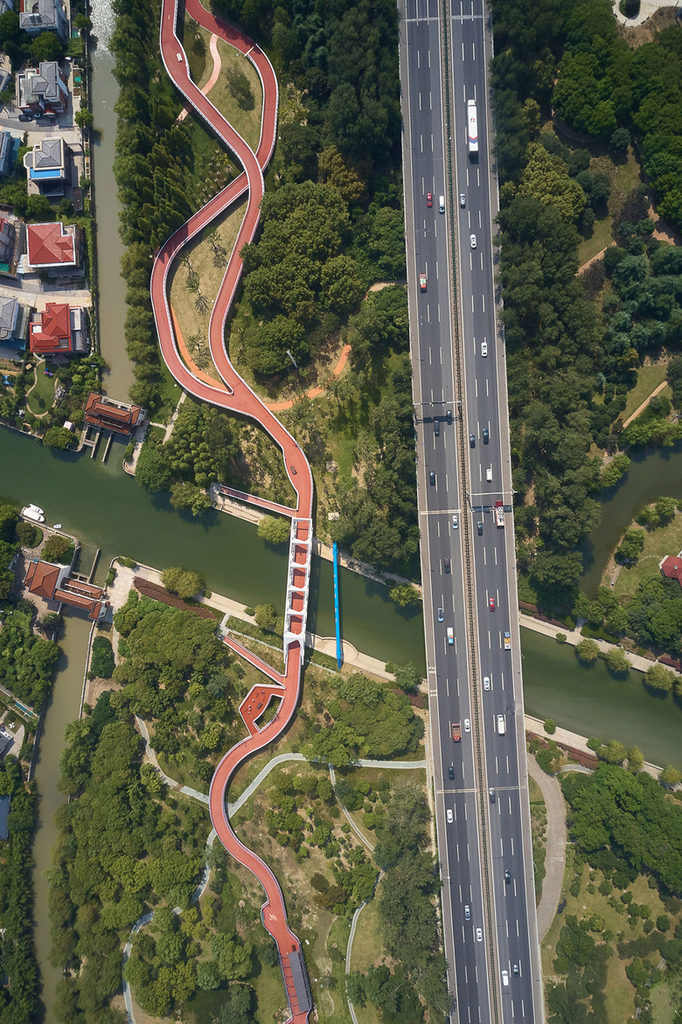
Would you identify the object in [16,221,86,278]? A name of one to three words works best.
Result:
house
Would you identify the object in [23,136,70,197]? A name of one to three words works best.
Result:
house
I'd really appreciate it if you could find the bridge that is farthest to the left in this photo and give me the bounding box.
[283,516,312,663]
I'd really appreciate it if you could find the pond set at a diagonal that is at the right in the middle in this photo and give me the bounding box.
[581,436,682,601]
